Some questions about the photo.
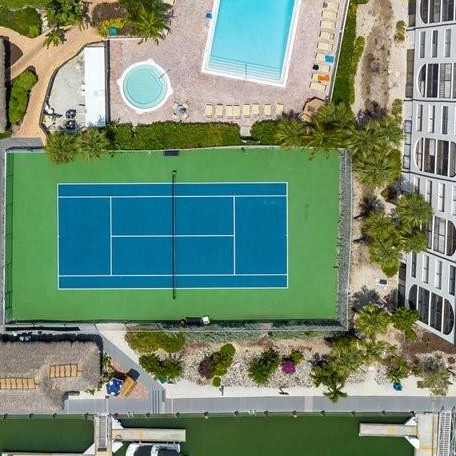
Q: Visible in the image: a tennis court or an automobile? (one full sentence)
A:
There is a tennis court in the scene.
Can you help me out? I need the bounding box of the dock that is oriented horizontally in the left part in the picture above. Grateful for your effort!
[3,419,185,456]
